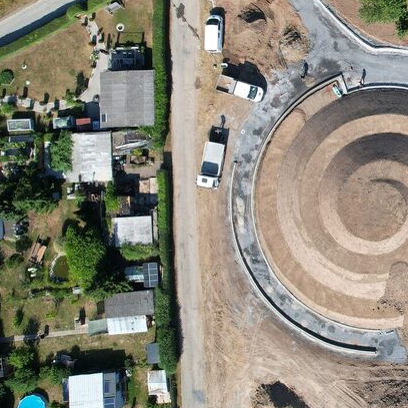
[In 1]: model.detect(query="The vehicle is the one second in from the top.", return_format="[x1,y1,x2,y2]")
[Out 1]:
[214,72,265,102]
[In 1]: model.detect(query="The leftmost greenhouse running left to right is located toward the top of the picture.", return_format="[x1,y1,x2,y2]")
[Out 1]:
[8,119,36,131]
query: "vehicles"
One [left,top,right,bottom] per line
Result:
[214,72,265,102]
[197,137,223,190]
[205,12,223,52]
